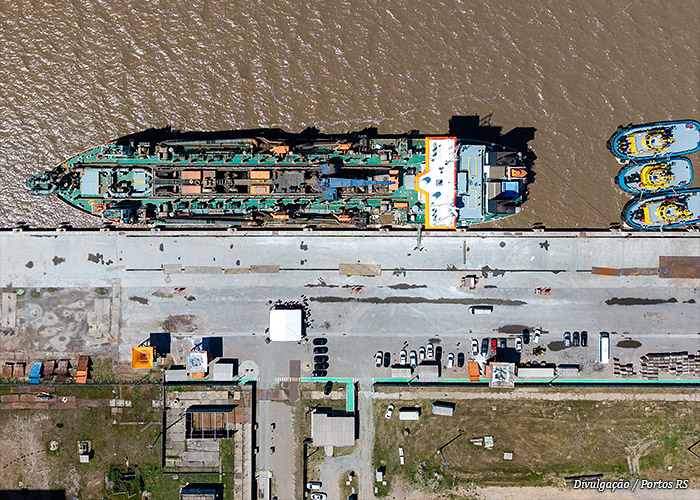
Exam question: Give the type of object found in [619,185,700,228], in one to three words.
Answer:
boat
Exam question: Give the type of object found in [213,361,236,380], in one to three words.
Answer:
building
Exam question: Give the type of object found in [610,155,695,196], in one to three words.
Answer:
boat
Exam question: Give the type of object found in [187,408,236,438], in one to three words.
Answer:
shed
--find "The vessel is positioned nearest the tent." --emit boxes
[27,135,531,230]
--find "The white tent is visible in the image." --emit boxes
[269,307,304,341]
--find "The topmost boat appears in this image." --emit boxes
[604,119,700,161]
